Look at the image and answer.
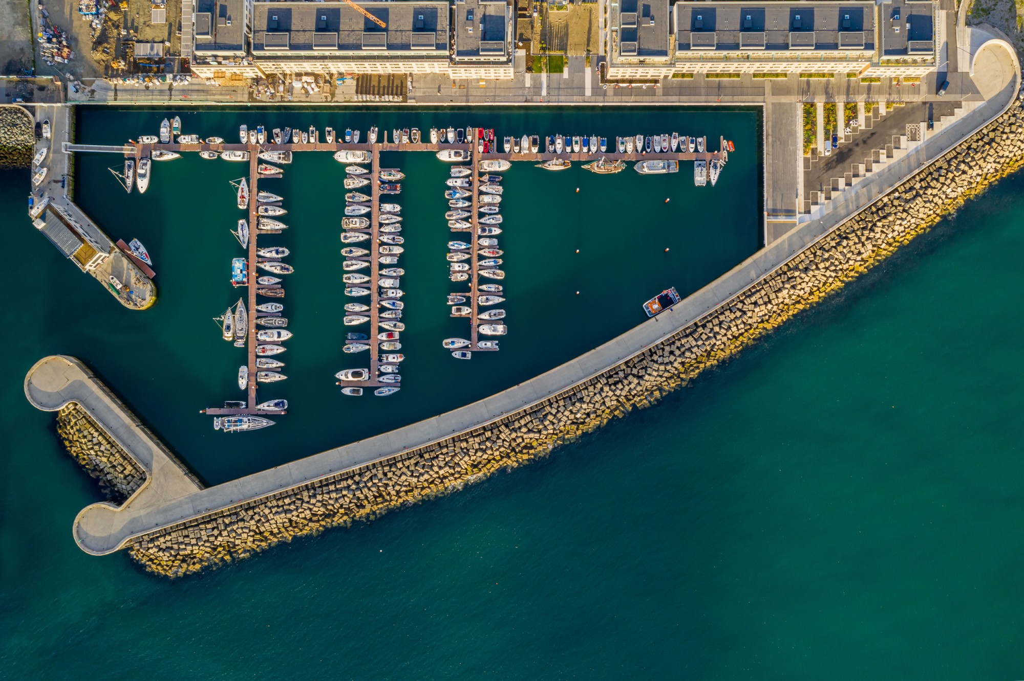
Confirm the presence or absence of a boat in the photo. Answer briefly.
Yes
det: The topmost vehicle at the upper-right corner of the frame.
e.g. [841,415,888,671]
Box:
[936,80,949,97]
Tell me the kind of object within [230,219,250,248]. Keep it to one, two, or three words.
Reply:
boat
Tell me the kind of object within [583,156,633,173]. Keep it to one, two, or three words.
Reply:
ship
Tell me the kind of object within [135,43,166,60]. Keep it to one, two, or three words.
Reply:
building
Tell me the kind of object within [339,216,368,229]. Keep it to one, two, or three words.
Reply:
boat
